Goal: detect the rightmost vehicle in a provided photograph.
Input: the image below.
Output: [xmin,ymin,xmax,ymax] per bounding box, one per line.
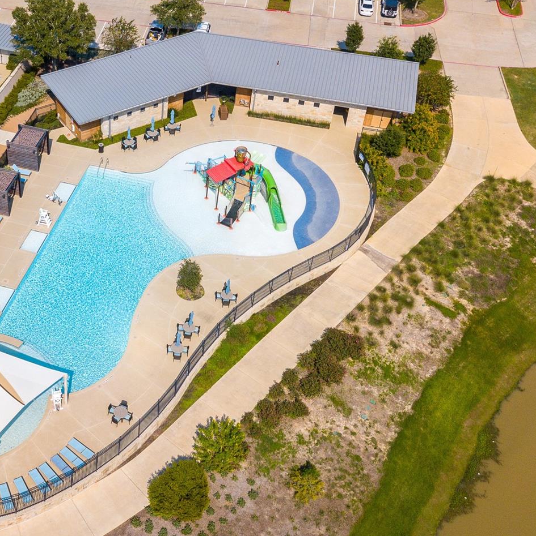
[381,0,399,17]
